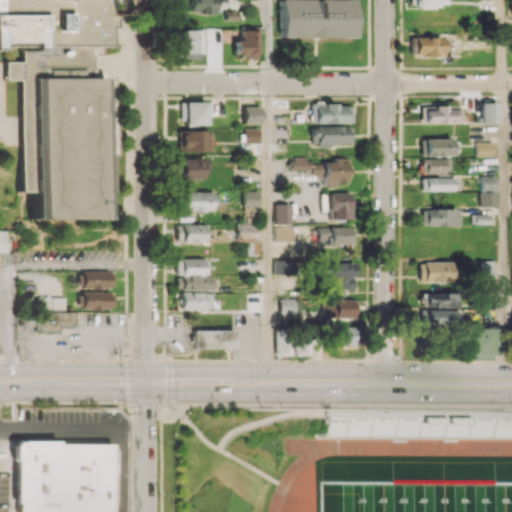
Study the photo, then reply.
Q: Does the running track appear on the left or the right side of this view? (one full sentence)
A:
It is on the right.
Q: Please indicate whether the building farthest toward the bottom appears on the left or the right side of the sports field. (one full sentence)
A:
The building farthest toward the bottom is to the left of the sports field.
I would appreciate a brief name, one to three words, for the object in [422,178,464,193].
house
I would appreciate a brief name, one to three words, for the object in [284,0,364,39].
building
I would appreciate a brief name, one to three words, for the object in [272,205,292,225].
building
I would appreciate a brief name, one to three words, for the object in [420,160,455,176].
house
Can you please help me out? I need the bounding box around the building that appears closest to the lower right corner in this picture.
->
[476,328,500,360]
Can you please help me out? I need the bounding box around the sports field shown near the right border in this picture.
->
[316,456,512,512]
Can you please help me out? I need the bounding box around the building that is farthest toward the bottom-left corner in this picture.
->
[12,440,120,512]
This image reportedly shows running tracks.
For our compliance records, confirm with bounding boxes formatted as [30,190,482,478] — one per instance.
[268,439,512,512]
